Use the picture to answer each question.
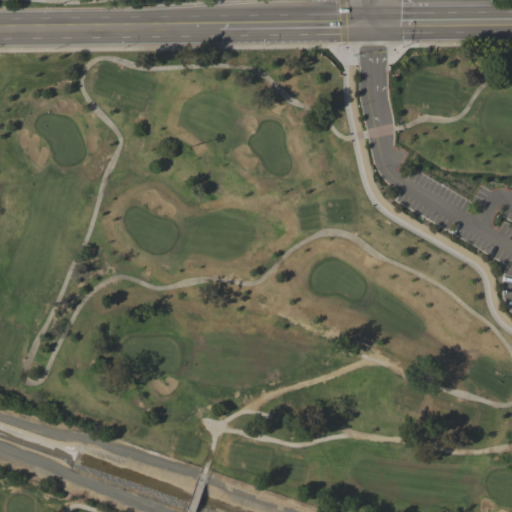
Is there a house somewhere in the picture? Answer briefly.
No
